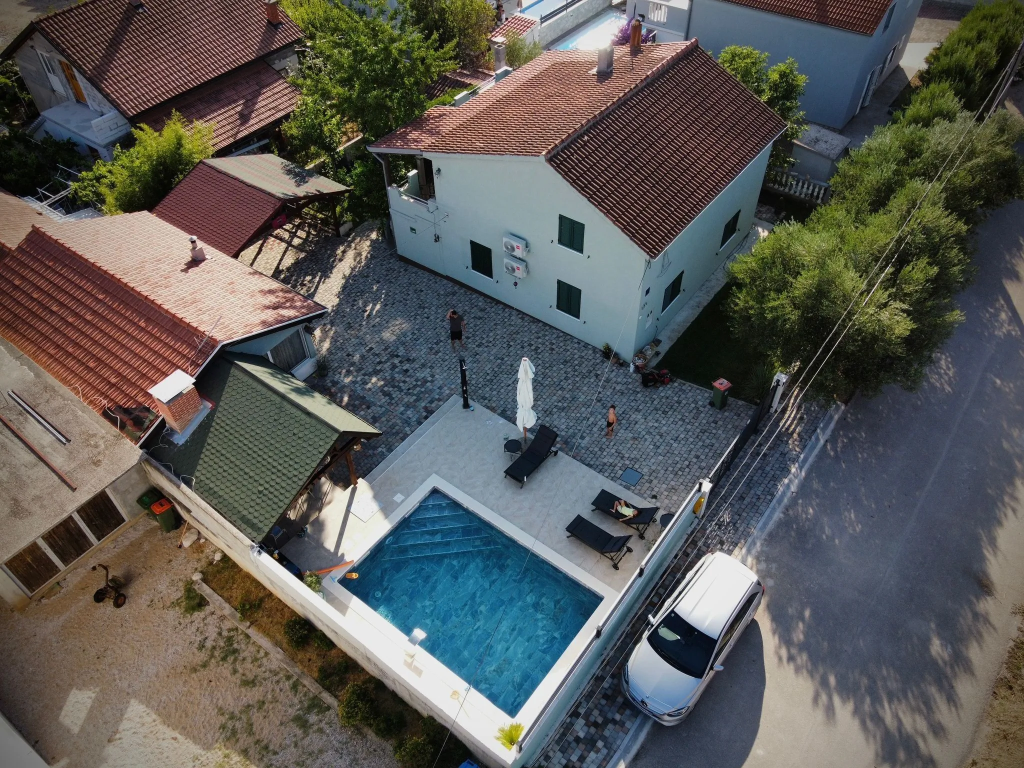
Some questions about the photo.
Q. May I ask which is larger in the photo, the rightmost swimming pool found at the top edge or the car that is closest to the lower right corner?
the car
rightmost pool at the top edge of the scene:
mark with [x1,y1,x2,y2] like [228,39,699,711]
[542,8,629,52]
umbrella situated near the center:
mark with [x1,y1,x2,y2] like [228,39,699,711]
[514,359,534,451]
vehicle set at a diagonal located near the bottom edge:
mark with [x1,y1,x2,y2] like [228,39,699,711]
[616,549,758,731]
